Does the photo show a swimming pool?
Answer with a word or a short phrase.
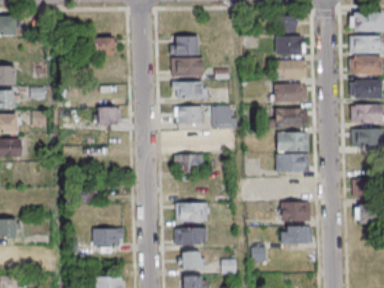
No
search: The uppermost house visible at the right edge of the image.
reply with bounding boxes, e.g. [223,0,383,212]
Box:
[350,14,384,32]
